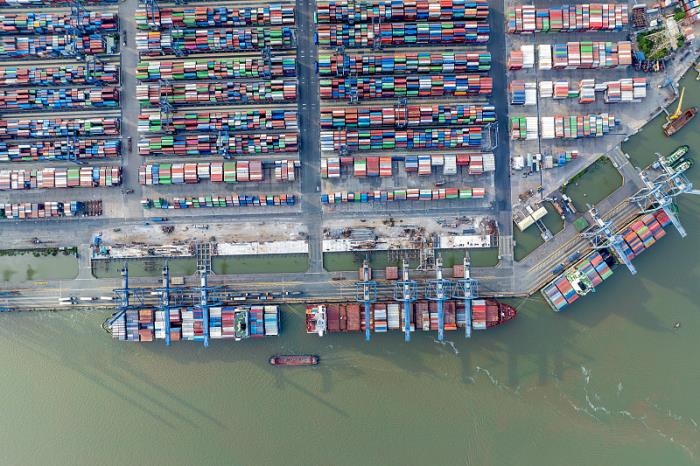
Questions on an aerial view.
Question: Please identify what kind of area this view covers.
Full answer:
It's a port.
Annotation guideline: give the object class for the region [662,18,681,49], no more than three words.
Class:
building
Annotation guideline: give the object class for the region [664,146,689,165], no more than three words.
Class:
boat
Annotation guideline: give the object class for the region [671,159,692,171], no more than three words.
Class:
boat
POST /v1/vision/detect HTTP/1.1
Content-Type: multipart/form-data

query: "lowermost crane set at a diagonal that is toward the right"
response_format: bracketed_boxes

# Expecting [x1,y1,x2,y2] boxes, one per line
[577,203,638,275]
